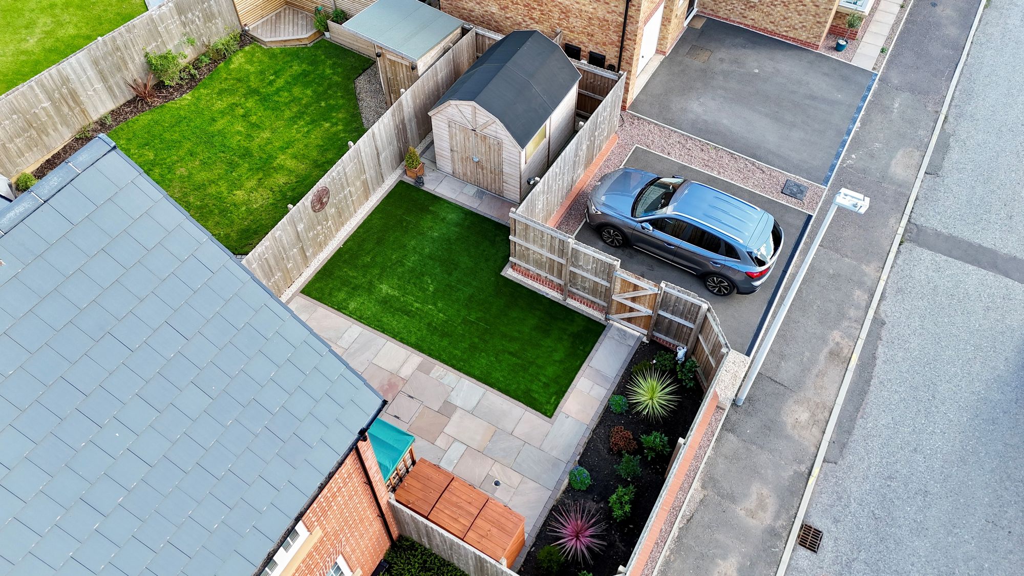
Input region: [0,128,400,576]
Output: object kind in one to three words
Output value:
house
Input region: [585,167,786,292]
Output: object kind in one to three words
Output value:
car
